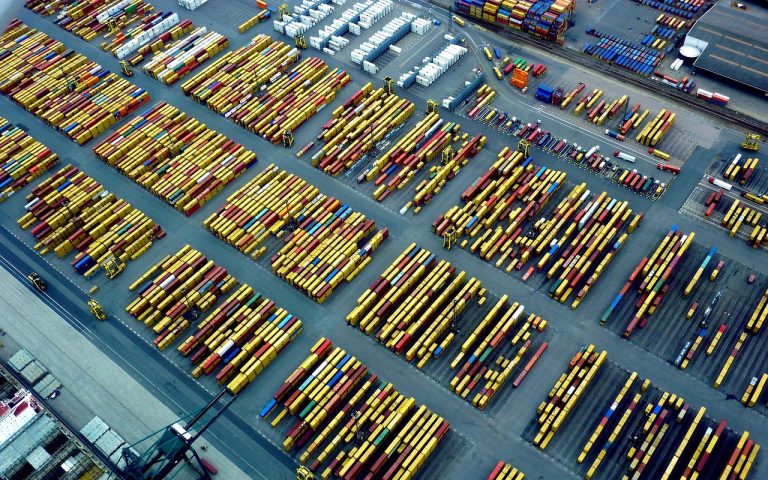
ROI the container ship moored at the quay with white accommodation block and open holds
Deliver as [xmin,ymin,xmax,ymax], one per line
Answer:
[0,368,117,480]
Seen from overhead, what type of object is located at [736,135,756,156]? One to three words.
work vehicle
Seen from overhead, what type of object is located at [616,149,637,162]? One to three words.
vehicle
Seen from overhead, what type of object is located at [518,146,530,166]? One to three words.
vehicle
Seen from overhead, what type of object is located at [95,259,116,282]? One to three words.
work vehicle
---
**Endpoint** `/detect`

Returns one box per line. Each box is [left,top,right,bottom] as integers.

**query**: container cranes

[106,383,245,480]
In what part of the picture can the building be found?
top right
